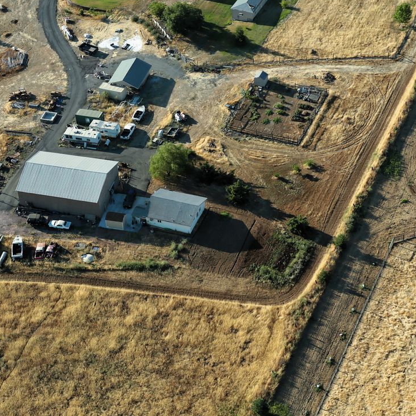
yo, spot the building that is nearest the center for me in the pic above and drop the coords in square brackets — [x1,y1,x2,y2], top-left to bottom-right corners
[147,189,207,235]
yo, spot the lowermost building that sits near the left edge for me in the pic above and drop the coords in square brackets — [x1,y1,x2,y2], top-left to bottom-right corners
[15,150,118,217]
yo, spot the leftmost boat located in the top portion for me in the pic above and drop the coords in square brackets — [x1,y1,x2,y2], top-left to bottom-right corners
[129,102,145,121]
